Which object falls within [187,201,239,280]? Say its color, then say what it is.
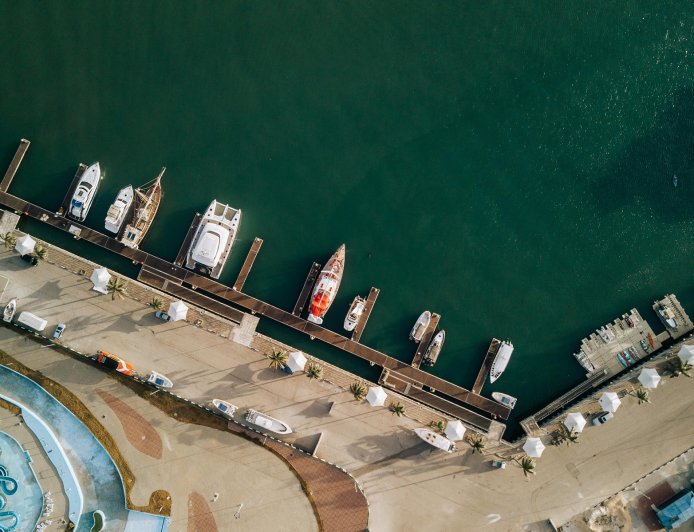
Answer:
white boat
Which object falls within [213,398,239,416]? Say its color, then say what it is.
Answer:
white boat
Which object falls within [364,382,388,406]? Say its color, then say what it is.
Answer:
white tent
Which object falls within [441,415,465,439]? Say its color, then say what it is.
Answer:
white tent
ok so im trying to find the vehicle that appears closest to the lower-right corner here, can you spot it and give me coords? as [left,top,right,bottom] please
[592,411,613,426]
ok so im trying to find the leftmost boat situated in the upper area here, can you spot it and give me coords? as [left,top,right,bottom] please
[69,162,101,224]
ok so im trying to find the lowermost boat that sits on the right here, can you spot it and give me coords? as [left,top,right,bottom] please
[410,425,455,453]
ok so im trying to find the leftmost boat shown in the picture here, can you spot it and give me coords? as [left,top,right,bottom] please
[4,298,19,323]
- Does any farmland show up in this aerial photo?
No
